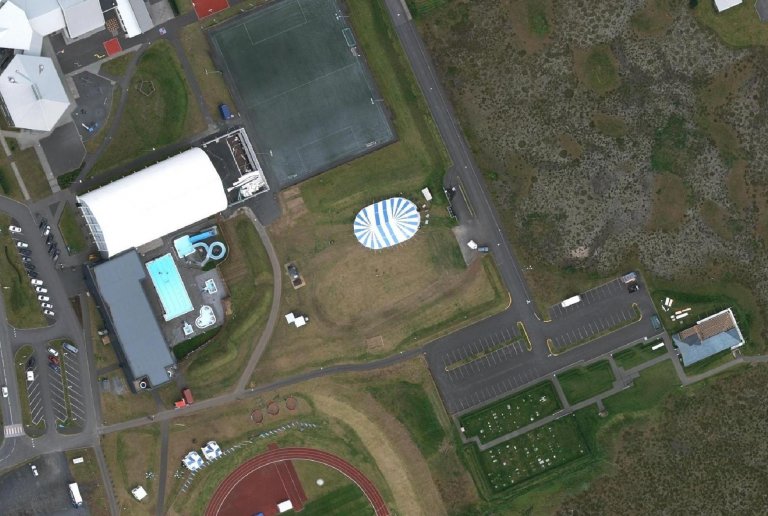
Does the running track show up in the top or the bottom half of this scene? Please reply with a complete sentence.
The running track sits in the bottom half of the picture.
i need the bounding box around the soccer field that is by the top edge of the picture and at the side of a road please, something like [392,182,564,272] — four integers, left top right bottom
[206,0,398,189]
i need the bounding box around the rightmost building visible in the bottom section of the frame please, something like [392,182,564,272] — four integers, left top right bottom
[673,306,746,367]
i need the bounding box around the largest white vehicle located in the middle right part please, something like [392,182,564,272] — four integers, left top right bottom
[561,294,581,308]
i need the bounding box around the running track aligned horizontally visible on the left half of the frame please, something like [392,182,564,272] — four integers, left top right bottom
[205,443,388,516]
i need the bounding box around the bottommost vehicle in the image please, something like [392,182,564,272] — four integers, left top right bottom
[69,482,82,506]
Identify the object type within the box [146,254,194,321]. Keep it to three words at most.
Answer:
swimming pool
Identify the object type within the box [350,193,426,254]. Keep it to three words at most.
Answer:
tent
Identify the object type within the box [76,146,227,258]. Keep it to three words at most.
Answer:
building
